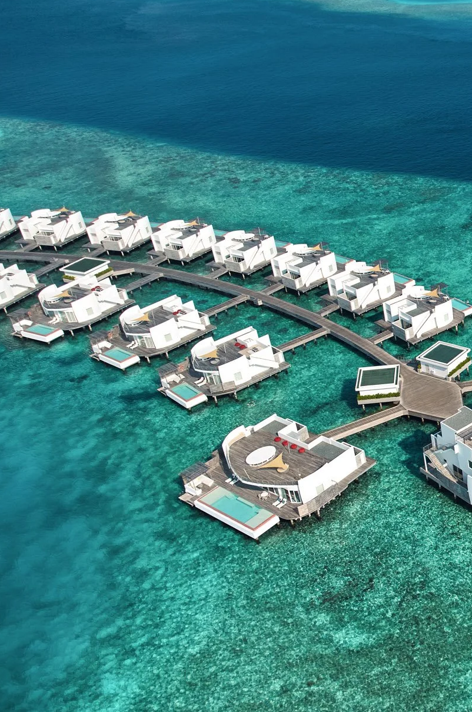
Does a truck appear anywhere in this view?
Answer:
No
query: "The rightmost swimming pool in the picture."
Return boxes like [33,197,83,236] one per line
[454,298,472,318]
